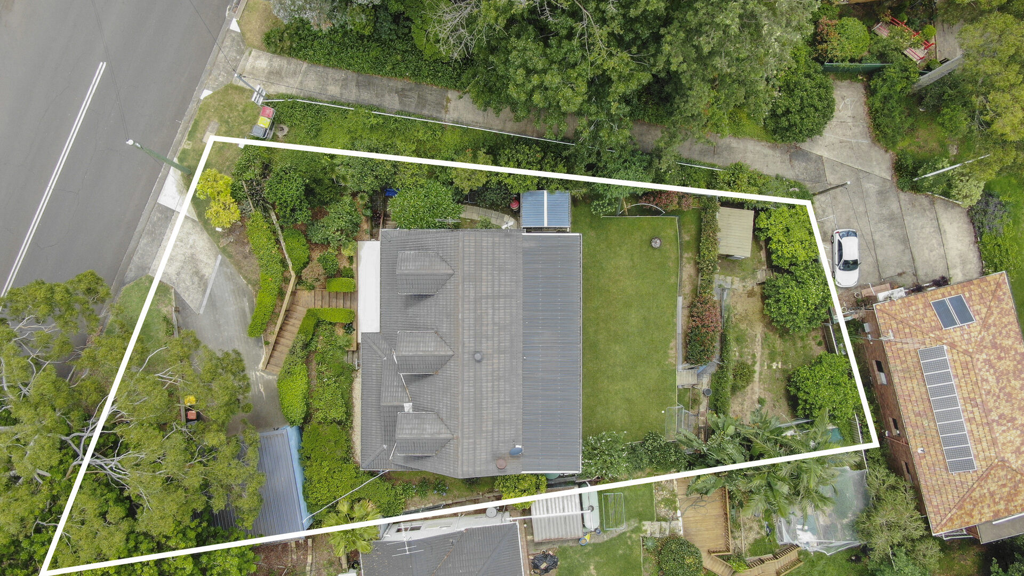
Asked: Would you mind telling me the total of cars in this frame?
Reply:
one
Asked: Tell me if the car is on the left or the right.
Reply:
right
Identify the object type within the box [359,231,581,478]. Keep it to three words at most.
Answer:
house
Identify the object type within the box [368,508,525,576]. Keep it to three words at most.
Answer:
house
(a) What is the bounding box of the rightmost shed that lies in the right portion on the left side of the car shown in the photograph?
[715,206,754,261]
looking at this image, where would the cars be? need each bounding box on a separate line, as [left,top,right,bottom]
[827,227,863,290]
